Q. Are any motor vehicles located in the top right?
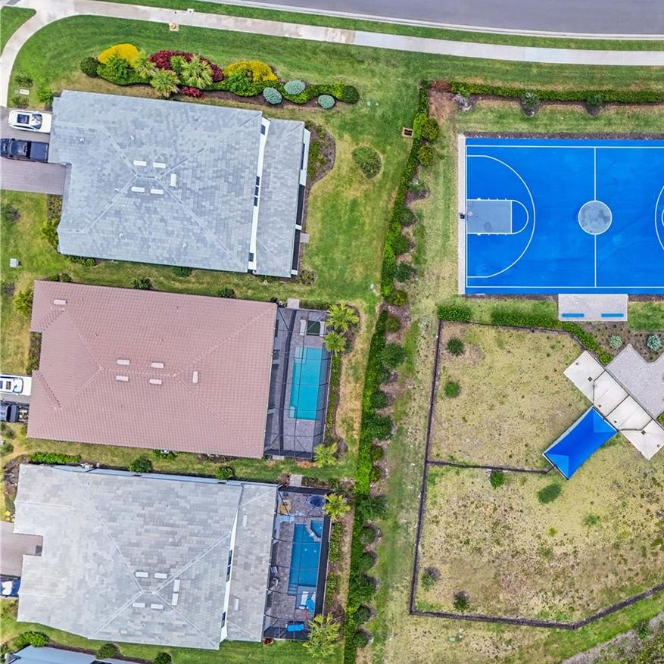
No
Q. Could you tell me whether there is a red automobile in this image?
No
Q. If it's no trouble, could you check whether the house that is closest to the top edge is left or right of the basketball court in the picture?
to the left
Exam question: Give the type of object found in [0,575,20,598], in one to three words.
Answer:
car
